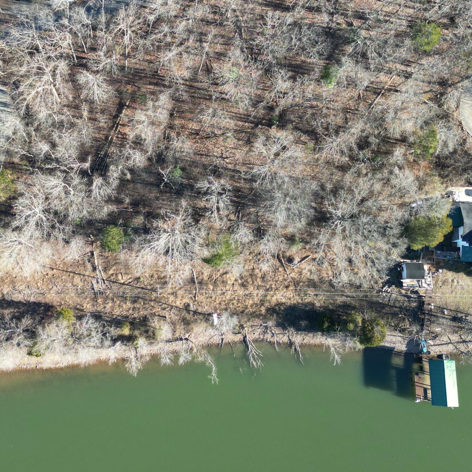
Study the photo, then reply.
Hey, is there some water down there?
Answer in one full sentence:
Yes, some water is visible.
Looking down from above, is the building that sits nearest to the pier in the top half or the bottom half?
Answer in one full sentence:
The building that sits nearest to the pier sits in the bottom half of the picture.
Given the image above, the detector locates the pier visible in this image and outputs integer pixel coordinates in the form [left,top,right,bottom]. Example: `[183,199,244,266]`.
[411,352,432,402]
